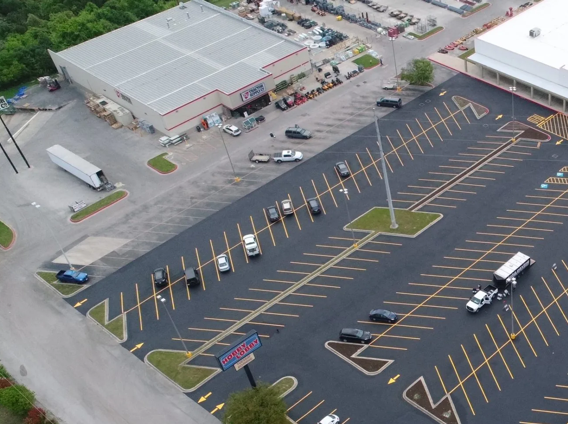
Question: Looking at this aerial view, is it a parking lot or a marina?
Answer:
parking lot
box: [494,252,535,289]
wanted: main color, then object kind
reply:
white trailer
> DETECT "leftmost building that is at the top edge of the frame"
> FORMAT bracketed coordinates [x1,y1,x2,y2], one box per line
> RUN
[47,0,311,137]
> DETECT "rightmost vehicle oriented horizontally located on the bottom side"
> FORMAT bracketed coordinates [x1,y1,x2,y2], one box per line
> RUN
[368,310,398,324]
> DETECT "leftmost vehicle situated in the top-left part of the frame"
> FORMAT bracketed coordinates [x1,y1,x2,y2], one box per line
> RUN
[46,79,64,92]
